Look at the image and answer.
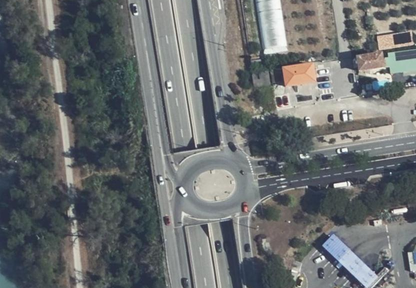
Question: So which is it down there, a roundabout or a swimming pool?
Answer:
roundabout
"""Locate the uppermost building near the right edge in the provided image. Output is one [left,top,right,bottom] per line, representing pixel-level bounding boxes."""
[377,30,415,50]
